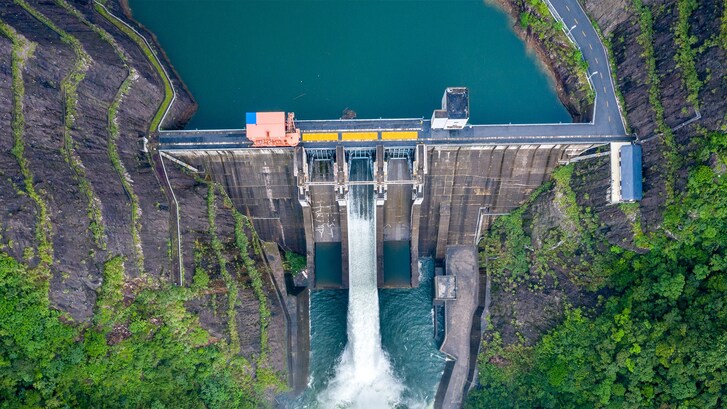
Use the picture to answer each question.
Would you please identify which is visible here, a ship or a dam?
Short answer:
dam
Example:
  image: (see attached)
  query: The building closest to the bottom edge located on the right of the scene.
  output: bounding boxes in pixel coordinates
[430,275,457,302]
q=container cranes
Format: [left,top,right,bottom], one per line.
[241,111,301,148]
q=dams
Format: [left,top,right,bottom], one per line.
[160,116,601,291]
